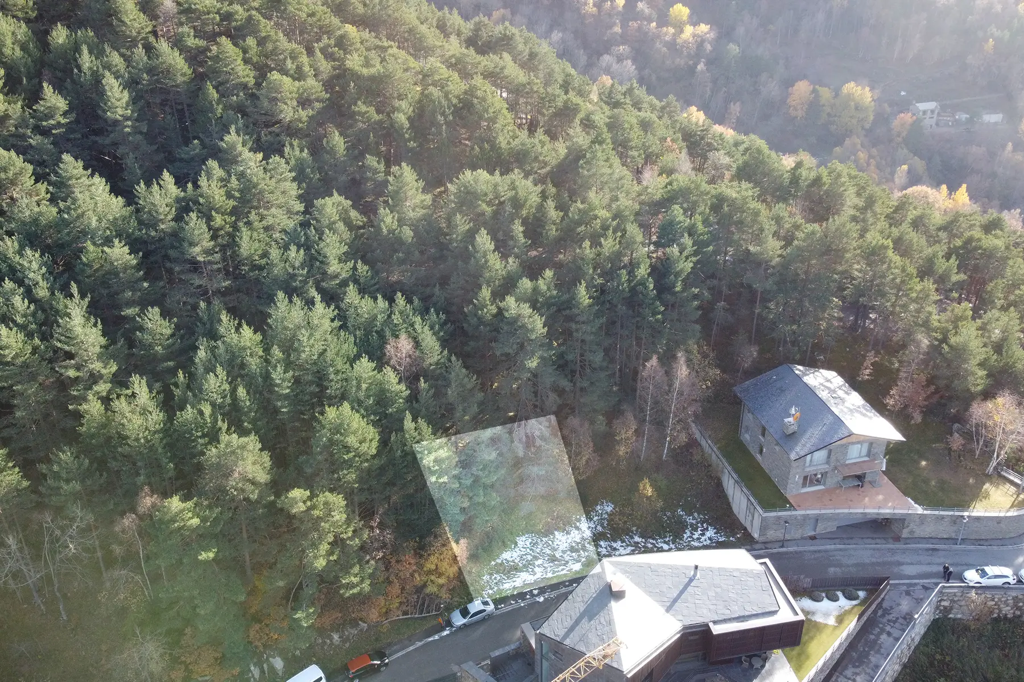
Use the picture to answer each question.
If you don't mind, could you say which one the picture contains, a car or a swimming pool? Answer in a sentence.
Of the two, only a car appears.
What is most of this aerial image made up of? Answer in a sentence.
For the most part, this view shows trees.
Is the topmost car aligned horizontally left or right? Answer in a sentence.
You can find the topmost car aligned horizontally on the right side of the picture.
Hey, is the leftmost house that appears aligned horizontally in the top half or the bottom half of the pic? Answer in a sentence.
The leftmost house that appears aligned horizontally is in the bottom half of the image.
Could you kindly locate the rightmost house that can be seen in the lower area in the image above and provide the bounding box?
[732,363,906,494]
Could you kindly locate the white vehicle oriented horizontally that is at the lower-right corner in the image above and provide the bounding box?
[957,562,1017,587]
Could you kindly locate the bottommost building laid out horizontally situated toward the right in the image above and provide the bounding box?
[538,549,804,682]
